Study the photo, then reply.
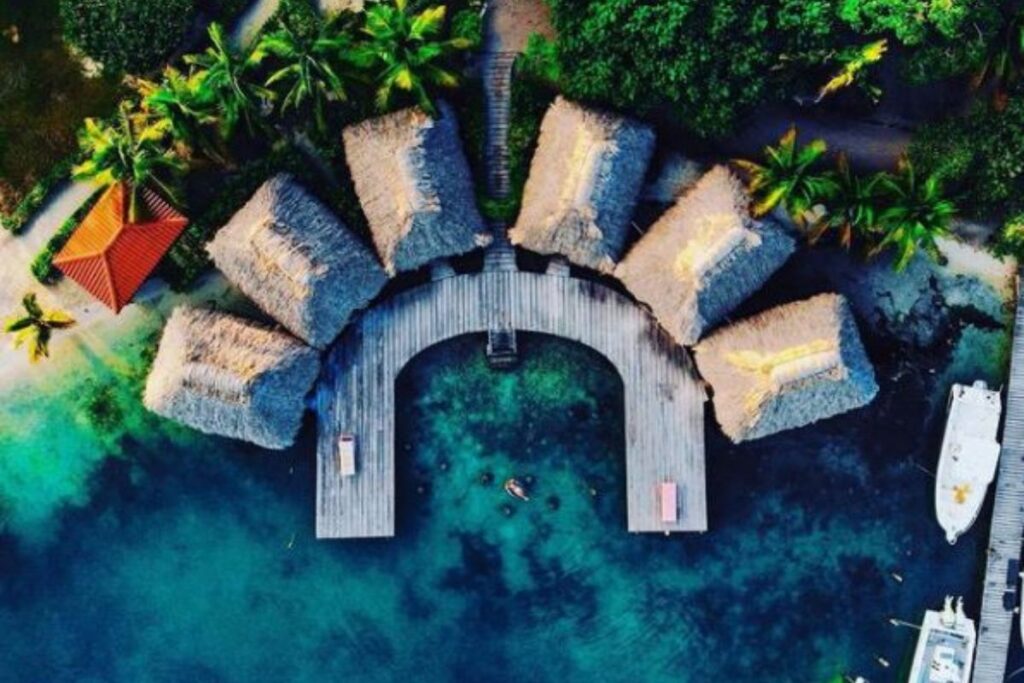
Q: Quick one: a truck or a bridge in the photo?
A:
bridge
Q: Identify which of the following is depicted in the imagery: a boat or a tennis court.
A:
boat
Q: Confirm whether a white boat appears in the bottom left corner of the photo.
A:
No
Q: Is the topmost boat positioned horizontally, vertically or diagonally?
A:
vertically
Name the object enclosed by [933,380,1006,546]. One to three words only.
boat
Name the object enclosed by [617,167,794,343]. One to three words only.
shed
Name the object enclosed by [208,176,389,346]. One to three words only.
shed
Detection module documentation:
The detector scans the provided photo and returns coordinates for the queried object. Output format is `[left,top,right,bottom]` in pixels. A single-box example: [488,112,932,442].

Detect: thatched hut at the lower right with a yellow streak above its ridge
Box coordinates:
[695,293,878,442]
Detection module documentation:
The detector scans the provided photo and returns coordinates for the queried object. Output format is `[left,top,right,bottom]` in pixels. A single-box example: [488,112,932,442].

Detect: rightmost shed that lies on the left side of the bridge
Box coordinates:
[343,100,492,276]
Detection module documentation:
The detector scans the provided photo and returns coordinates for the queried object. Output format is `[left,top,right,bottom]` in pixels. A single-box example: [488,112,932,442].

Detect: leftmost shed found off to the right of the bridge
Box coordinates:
[509,97,657,275]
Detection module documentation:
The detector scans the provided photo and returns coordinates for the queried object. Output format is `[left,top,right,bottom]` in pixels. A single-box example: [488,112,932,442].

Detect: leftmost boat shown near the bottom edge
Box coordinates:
[904,594,973,683]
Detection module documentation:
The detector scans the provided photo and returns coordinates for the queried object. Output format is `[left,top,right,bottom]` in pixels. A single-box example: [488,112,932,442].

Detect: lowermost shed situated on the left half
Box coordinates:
[145,307,320,449]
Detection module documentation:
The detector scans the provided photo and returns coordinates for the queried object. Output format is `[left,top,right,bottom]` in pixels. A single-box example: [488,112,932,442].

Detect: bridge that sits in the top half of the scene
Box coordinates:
[482,216,518,271]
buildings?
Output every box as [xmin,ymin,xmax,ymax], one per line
[343,100,492,276]
[208,176,389,346]
[617,167,794,343]
[695,293,878,442]
[145,307,320,449]
[51,183,189,313]
[509,97,657,275]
